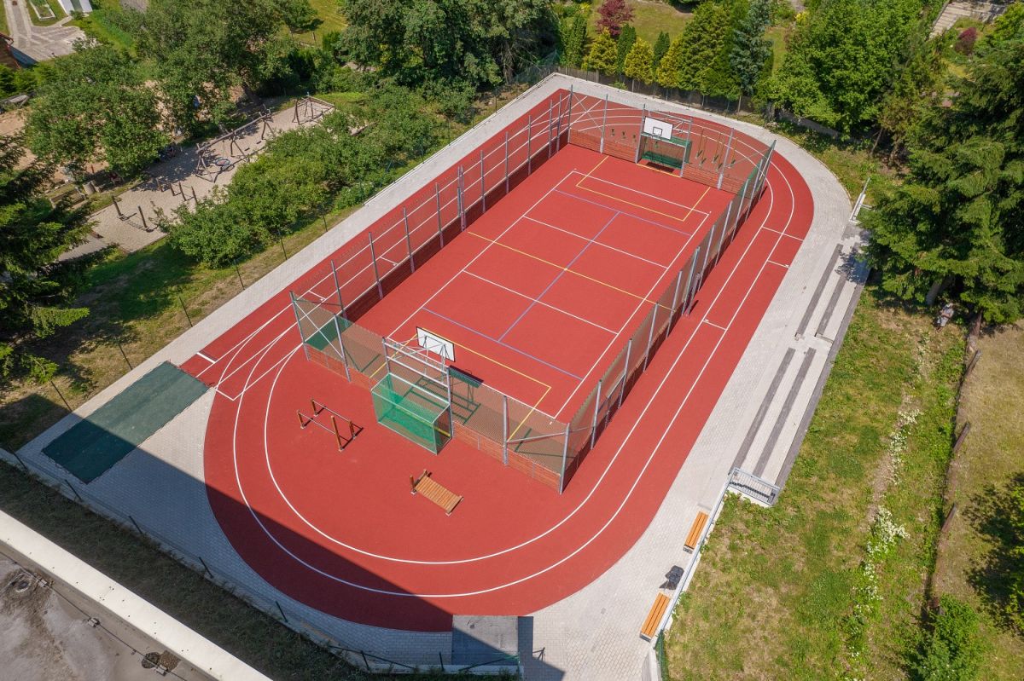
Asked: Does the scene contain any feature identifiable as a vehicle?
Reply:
No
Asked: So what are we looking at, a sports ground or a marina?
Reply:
sports ground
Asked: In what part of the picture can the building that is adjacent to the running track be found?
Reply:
bottom left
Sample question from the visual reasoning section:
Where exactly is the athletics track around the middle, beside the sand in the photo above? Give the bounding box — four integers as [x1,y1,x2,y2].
[181,89,814,628]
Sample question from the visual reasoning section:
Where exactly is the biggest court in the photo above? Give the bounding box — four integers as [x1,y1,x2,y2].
[322,143,752,474]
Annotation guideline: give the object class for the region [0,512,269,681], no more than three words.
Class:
building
